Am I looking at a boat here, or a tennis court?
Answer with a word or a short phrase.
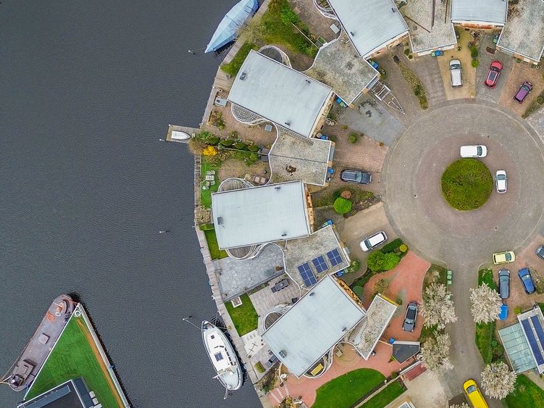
boat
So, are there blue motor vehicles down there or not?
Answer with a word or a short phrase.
Yes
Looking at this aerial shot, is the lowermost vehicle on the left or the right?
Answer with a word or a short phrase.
right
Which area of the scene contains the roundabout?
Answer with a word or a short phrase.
right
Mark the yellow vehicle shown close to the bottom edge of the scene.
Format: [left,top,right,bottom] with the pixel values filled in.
[467,379,489,408]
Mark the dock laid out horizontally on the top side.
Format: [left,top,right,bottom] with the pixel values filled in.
[159,123,200,142]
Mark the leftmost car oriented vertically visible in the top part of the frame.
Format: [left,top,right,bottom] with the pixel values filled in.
[449,59,463,88]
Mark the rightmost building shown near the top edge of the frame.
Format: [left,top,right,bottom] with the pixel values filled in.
[497,0,544,63]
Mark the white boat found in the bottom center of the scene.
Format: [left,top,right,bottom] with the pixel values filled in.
[188,312,241,403]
